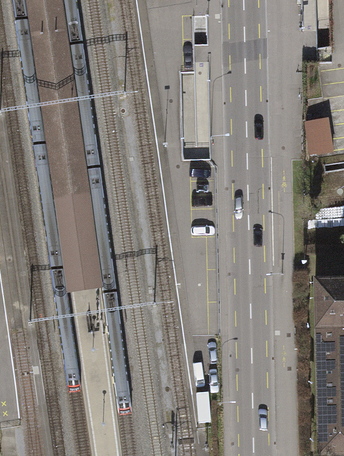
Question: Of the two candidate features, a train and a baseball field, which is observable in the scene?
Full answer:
Visible in the photo is a train.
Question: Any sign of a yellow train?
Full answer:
No, the picture doesn't show any yellow train.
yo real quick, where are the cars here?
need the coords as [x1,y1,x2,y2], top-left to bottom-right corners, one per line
[190,170,212,180]
[192,196,212,207]
[258,408,269,432]
[206,342,218,364]
[182,42,194,68]
[234,192,245,218]
[252,225,264,248]
[190,225,214,236]
[196,182,210,192]
[208,371,219,395]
